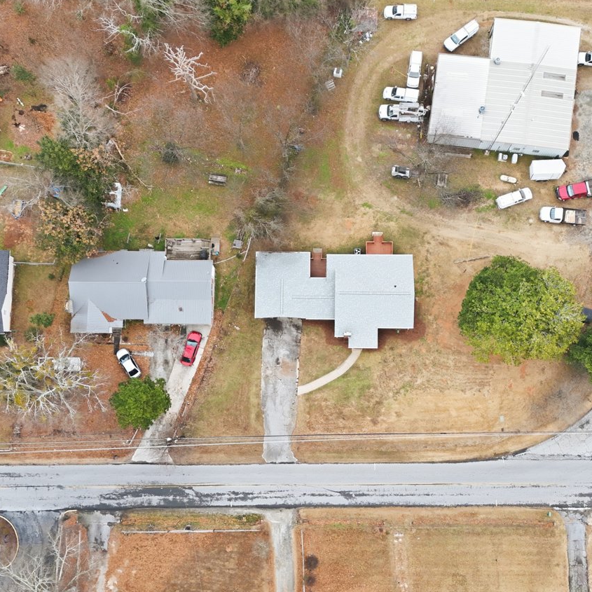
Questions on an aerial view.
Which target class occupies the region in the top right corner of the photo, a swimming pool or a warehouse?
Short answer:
warehouse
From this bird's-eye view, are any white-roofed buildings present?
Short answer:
Yes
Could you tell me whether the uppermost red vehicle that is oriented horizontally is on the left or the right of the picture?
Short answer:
right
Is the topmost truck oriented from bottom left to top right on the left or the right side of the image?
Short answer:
right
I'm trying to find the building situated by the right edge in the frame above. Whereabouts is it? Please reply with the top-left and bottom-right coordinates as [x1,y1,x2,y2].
[427,18,581,158]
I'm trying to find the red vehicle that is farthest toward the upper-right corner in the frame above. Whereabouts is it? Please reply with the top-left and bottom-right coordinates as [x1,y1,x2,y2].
[554,179,592,200]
